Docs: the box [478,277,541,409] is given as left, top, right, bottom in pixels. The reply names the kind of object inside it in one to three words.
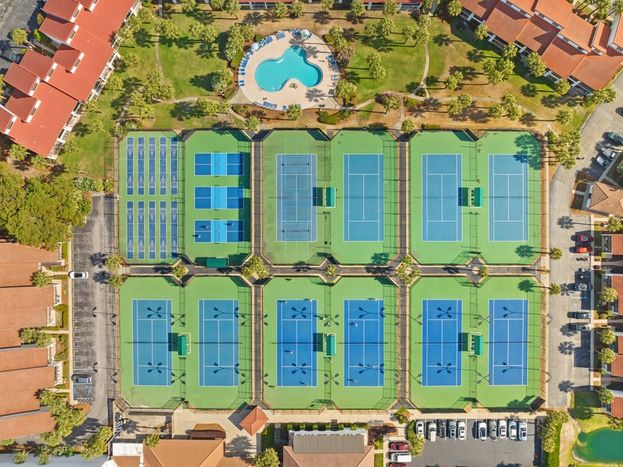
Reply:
tennis court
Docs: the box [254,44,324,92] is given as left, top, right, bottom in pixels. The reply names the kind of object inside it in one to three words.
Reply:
swimming pool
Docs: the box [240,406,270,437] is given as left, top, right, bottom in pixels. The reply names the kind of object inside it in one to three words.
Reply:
gazebo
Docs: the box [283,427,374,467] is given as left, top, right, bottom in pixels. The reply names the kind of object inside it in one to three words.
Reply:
building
